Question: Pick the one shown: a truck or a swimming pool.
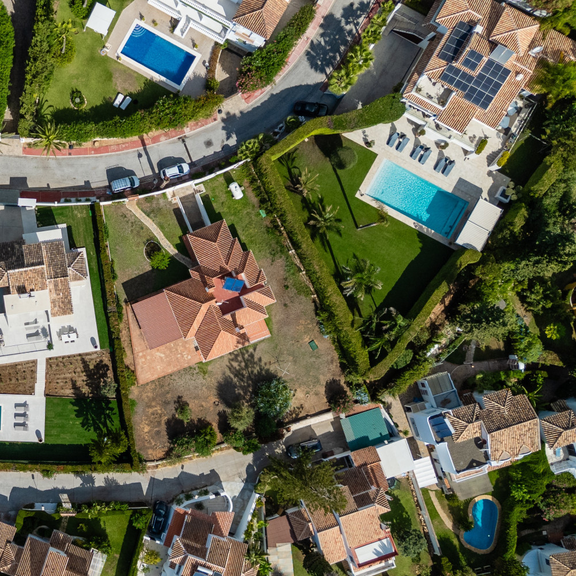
swimming pool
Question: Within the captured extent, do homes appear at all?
Yes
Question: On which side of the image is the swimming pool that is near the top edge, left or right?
left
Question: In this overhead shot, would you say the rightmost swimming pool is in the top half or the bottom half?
bottom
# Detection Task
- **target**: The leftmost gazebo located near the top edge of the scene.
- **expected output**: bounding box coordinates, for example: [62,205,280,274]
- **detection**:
[84,2,117,40]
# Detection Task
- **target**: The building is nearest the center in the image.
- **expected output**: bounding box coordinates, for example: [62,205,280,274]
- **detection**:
[132,219,277,361]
